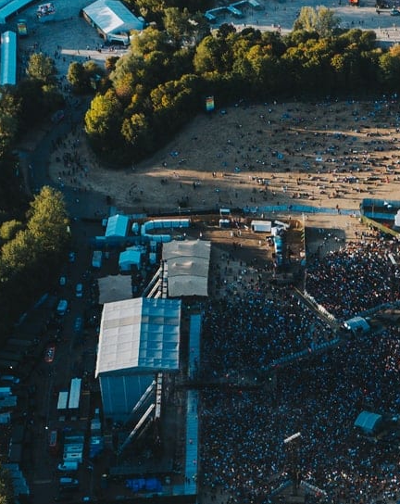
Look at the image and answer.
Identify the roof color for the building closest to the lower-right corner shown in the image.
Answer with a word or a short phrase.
blue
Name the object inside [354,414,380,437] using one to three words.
building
